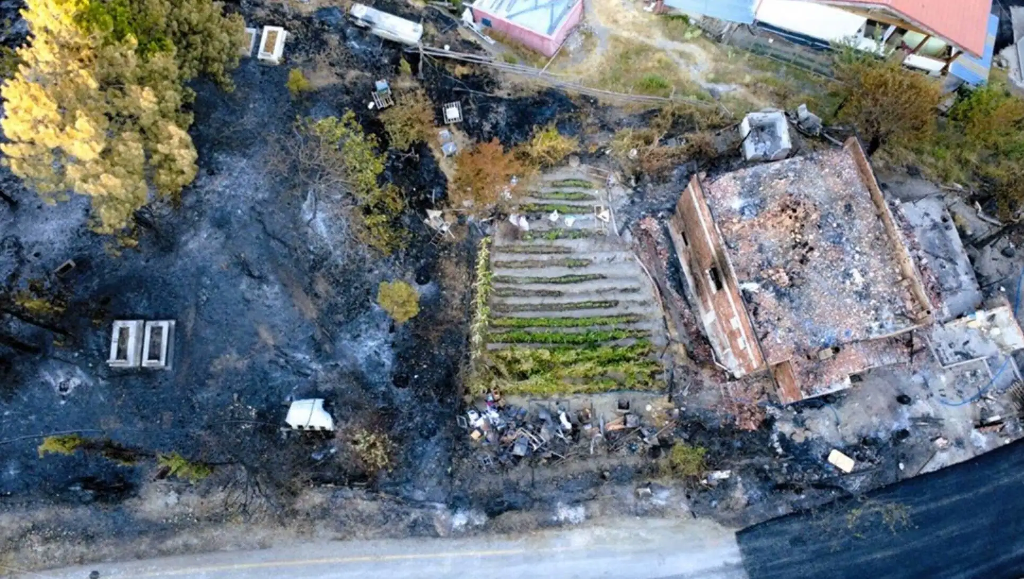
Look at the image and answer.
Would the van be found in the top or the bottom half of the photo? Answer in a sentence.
The top half of the photo is where the van is.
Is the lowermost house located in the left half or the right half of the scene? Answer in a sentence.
The lowermost house sits on the right side.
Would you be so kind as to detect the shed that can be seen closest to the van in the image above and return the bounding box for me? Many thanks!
[466,0,589,61]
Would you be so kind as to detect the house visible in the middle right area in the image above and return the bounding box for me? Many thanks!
[669,140,934,406]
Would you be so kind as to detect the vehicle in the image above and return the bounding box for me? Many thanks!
[344,0,429,48]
